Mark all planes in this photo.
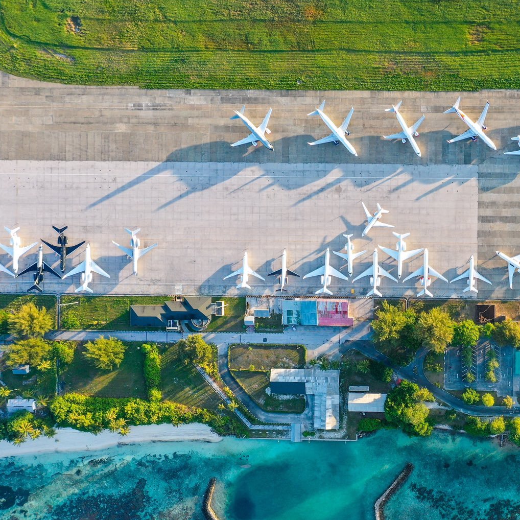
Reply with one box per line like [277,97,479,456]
[17,245,63,292]
[112,228,158,275]
[0,227,38,273]
[229,102,274,150]
[352,249,398,296]
[452,255,493,293]
[334,235,367,277]
[304,248,350,296]
[225,251,266,289]
[63,244,111,291]
[377,232,423,278]
[446,98,497,150]
[497,251,520,288]
[404,249,448,296]
[309,102,358,156]
[39,226,85,272]
[269,250,300,291]
[384,102,425,156]
[362,201,395,236]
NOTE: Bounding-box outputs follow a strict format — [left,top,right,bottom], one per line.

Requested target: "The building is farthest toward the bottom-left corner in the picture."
[6,398,37,413]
